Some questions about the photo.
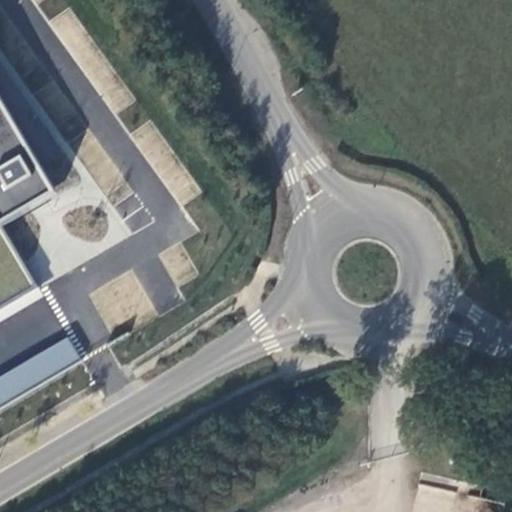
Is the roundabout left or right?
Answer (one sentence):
It is on the right.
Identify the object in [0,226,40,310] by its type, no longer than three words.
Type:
building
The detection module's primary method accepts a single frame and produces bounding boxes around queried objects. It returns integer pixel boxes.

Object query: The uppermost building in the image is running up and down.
[0,98,56,227]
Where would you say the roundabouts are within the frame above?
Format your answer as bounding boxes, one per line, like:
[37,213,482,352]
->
[247,156,496,358]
